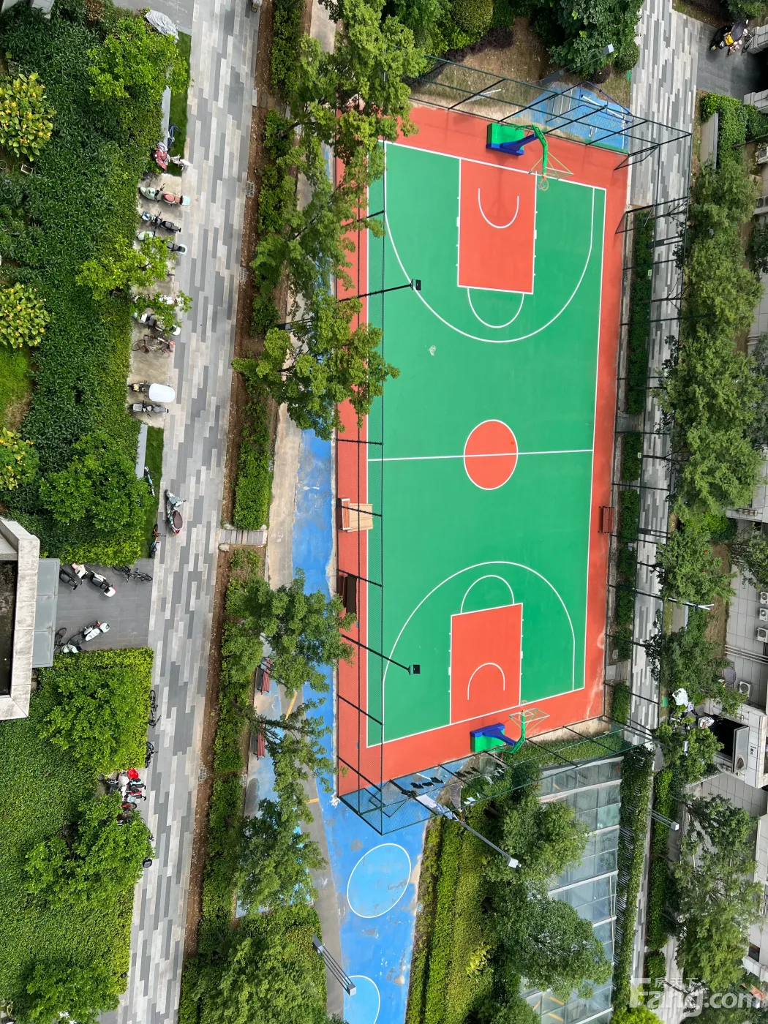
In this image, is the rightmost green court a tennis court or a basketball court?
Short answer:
basketball court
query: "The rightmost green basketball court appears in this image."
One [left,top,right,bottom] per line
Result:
[337,87,628,797]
